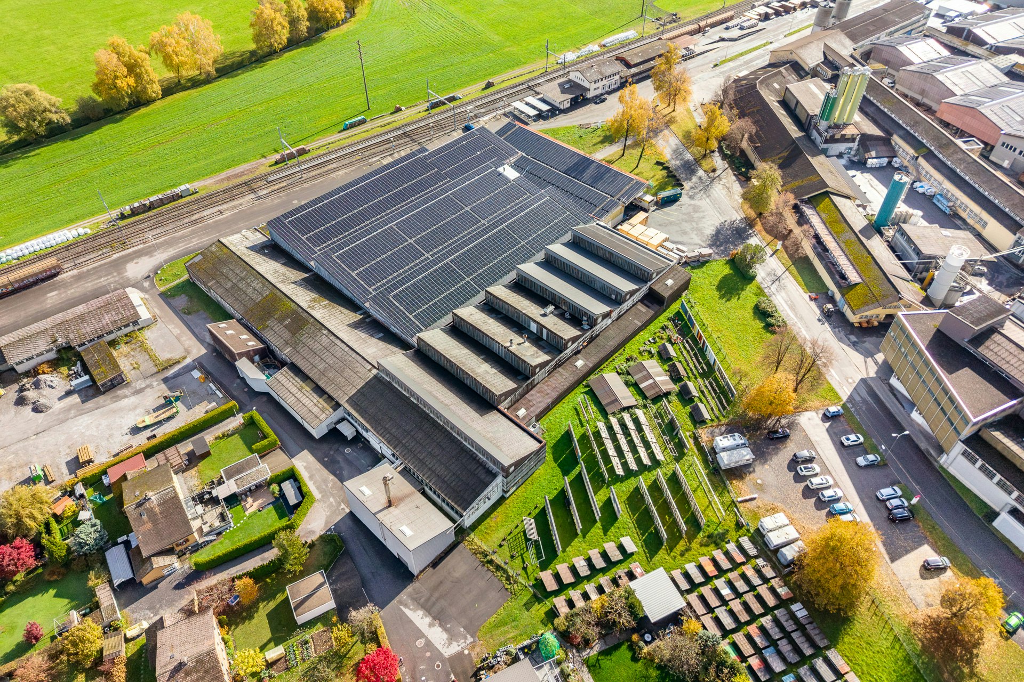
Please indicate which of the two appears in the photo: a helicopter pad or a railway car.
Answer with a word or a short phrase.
railway car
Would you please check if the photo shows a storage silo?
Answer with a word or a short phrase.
Yes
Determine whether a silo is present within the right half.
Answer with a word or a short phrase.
Yes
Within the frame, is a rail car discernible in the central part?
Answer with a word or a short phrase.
No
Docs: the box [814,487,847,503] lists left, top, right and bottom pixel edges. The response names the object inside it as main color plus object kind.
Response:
white car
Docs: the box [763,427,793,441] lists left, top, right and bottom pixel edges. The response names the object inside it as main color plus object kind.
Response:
black car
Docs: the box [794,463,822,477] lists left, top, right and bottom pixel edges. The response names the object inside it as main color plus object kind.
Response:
white car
